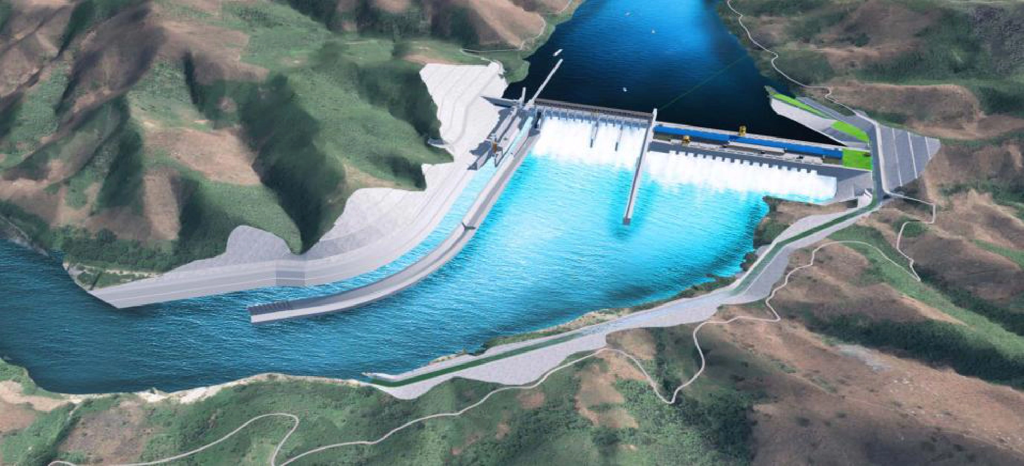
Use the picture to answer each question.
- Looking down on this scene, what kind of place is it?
port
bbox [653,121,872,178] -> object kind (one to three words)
building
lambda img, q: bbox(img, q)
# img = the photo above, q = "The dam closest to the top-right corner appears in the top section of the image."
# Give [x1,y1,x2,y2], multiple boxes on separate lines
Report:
[532,99,654,138]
